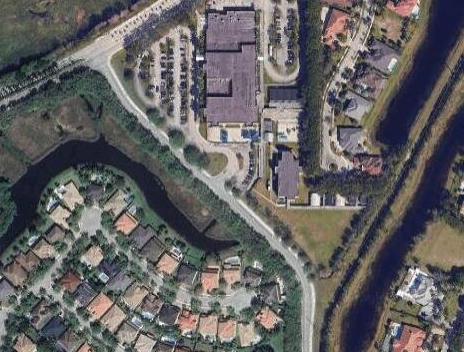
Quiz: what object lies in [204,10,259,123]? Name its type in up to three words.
building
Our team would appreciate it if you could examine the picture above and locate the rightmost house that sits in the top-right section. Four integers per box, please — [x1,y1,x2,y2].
[388,0,423,20]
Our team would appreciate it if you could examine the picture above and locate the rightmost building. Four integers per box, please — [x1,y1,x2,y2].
[409,272,444,306]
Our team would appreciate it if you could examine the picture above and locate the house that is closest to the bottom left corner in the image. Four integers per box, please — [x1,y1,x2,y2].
[11,331,38,352]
